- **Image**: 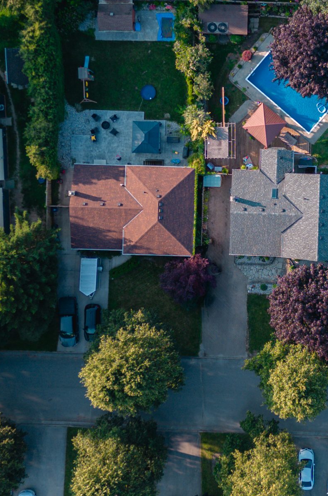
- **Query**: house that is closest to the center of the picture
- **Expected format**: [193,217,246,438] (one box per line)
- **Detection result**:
[65,164,195,257]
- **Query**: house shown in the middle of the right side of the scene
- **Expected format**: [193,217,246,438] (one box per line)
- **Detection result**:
[229,146,328,263]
